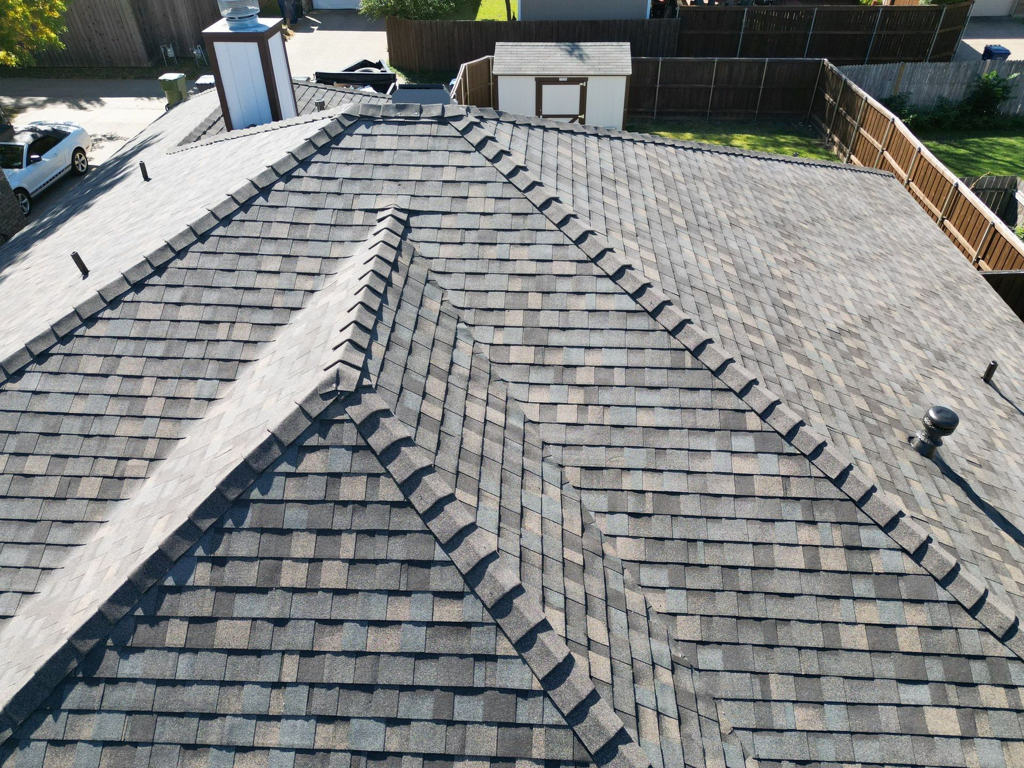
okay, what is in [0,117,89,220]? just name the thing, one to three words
car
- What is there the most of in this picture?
buildings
